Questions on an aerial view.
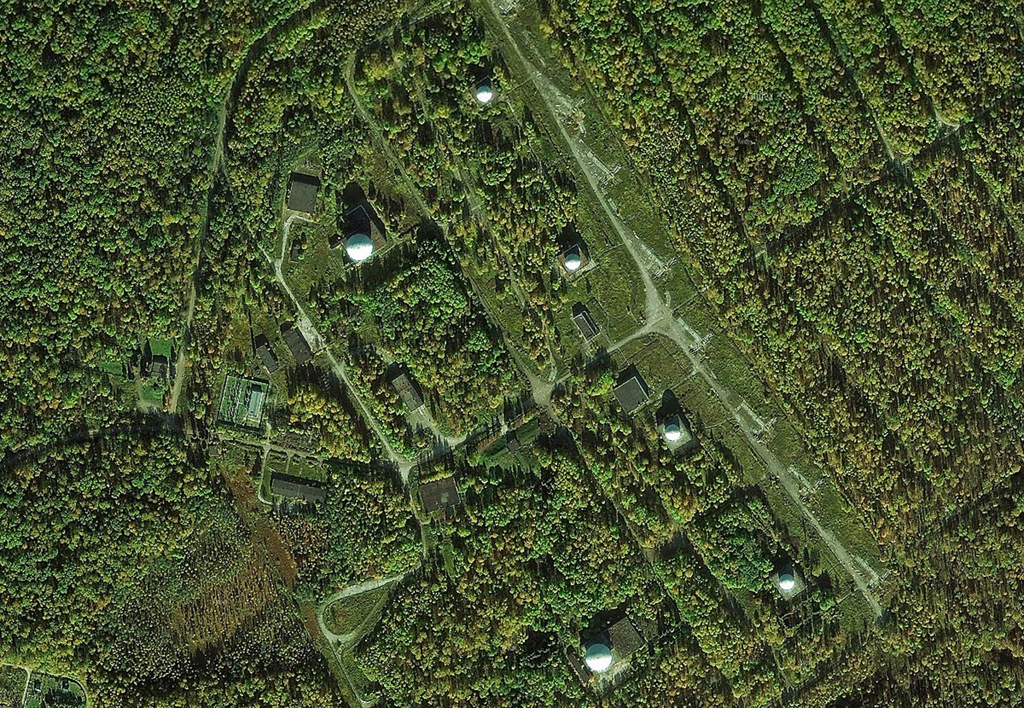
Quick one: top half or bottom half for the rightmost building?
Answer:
bottom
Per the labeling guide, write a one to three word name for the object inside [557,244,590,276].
building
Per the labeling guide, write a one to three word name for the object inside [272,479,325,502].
building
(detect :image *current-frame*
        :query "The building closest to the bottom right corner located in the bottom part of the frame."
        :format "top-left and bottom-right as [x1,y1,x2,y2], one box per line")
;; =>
[772,564,807,601]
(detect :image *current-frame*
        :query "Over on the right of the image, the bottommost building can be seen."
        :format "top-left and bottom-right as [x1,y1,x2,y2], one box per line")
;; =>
[585,616,644,671]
